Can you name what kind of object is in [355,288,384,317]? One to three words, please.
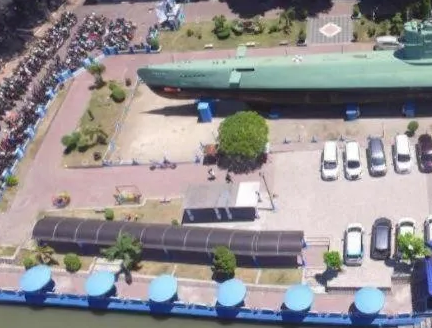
umbrella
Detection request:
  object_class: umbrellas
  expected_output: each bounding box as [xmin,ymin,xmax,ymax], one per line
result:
[85,271,117,300]
[148,276,178,304]
[355,288,384,317]
[284,285,314,315]
[23,266,56,295]
[216,280,248,310]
